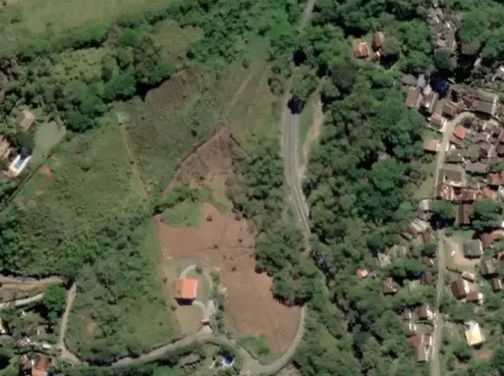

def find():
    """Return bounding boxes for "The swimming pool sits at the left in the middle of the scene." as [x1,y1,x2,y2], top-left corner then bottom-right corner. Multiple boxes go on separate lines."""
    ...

[13,154,30,174]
